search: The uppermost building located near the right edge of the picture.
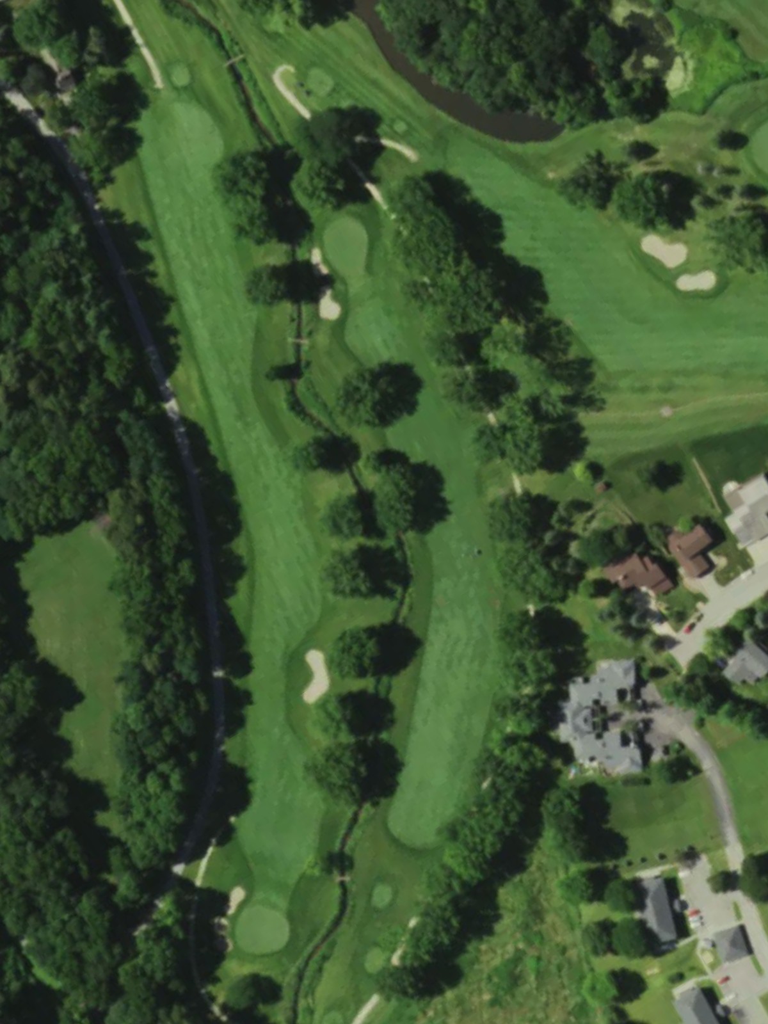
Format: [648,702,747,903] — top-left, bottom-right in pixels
[724,474,768,546]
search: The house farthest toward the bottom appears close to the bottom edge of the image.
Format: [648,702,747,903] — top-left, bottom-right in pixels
[676,988,721,1024]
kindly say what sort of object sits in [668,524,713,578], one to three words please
house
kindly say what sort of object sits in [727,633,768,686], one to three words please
house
